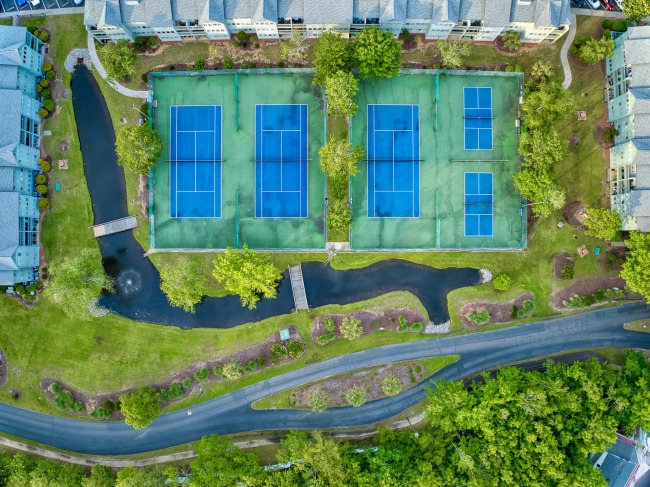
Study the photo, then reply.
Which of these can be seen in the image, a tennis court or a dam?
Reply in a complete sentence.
The one in the frame is a tennis court.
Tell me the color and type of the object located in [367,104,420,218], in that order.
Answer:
blue tennis court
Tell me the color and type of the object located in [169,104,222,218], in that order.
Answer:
blue tennis court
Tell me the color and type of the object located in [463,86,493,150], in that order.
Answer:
blue sports court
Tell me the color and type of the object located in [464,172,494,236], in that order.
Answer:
blue sports court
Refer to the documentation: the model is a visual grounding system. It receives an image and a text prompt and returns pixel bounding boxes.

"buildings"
[0,21,41,288]
[609,22,650,234]
[582,436,649,487]
[80,0,577,40]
